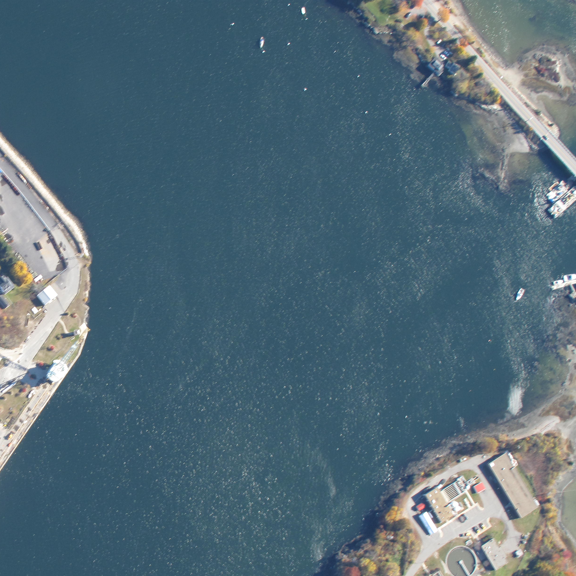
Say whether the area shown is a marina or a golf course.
marina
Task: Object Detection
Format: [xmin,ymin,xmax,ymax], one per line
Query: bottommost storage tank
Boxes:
[445,547,477,576]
